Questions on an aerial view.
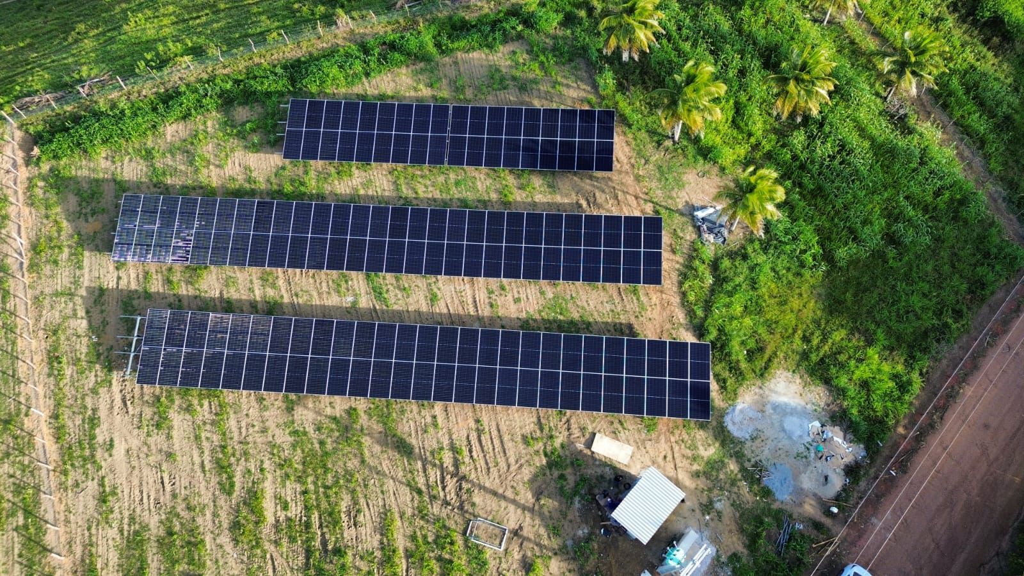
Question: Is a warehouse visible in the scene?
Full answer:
No, I can see no warehouse in this picture.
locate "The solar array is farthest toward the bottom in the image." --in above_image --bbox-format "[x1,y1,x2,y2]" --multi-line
[112,308,712,421]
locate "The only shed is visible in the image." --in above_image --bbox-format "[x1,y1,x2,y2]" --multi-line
[611,467,685,544]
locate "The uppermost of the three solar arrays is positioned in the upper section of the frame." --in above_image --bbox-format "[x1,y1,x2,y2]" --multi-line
[277,97,615,172]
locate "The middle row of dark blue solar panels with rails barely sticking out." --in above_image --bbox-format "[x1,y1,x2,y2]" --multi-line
[110,193,663,286]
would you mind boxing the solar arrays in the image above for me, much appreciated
[112,308,712,421]
[277,97,615,172]
[110,193,663,286]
